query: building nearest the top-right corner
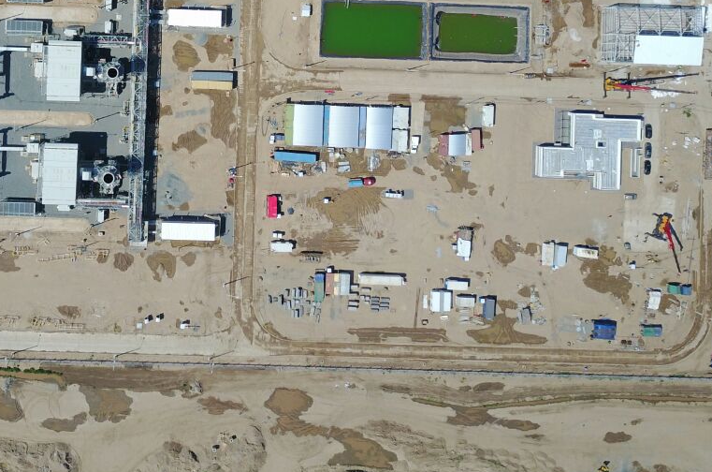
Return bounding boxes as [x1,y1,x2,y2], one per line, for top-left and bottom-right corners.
[587,4,705,67]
